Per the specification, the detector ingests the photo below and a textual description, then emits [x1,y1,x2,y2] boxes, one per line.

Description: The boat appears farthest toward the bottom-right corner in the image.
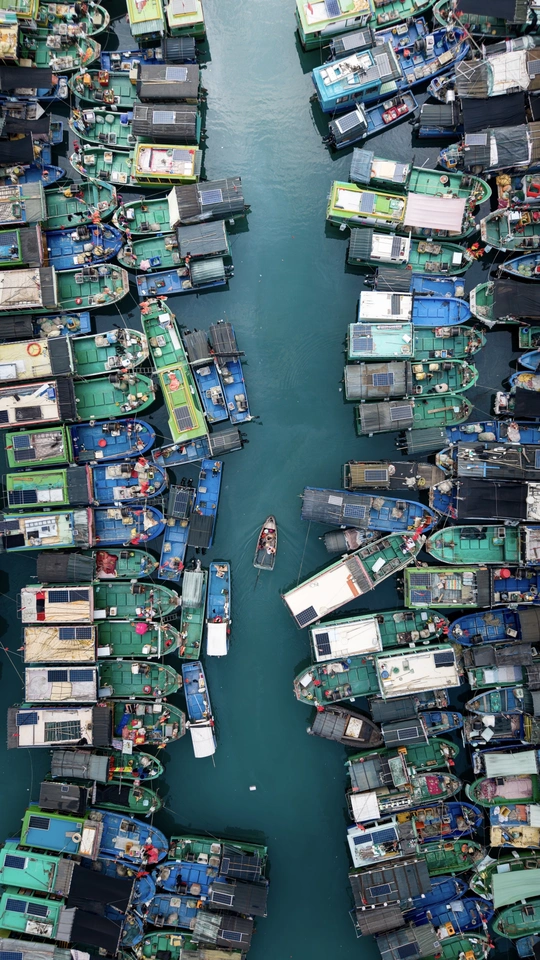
[515,936,540,956]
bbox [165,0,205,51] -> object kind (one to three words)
boat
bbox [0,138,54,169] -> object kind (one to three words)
boat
